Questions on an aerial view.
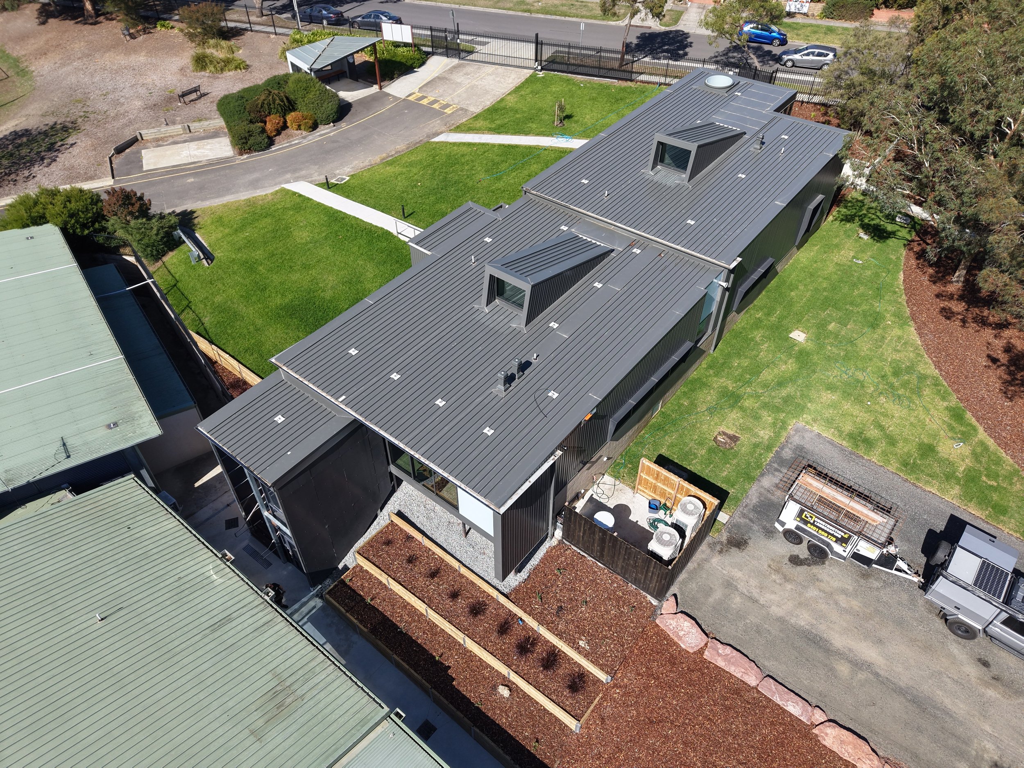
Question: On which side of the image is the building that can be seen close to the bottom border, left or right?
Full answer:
You can find the building that can be seen close to the bottom border on the left side of the picture.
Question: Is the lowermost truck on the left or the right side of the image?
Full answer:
You can find the lowermost truck on the right side of the picture.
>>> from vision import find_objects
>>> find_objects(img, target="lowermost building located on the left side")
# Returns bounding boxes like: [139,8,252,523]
[0,473,452,768]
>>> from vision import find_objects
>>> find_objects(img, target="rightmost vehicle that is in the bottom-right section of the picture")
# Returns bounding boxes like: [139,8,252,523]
[918,525,1024,669]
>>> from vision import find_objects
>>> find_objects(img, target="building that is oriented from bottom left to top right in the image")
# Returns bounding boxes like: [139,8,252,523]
[191,65,854,589]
